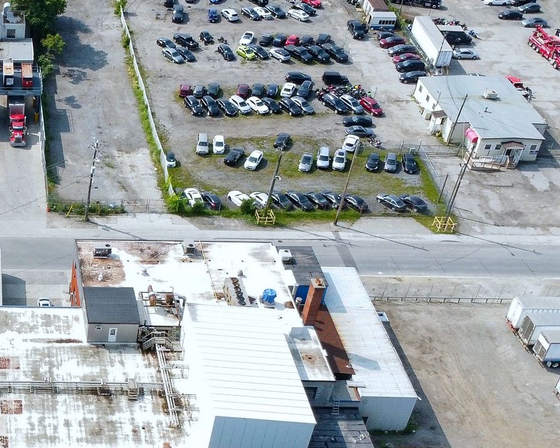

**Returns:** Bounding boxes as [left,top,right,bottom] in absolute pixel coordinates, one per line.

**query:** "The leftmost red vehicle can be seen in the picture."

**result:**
[8,112,25,145]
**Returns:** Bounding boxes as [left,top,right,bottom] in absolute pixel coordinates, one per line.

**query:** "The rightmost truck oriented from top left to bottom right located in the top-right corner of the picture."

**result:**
[524,23,560,69]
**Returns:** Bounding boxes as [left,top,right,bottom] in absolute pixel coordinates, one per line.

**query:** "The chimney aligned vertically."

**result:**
[296,277,323,327]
